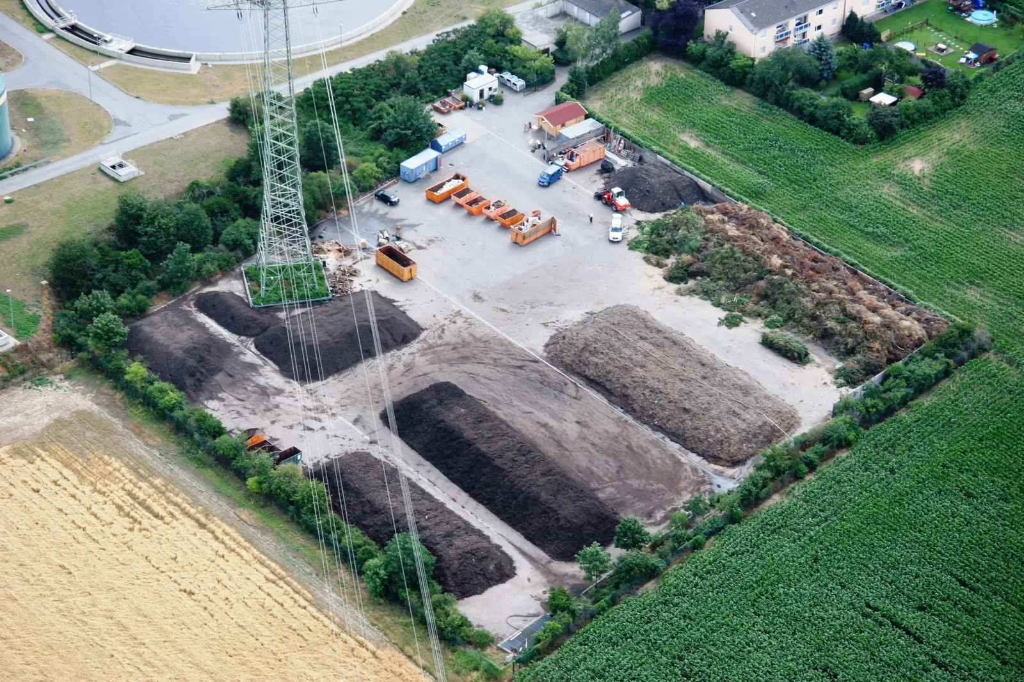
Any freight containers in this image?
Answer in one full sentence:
Yes, this view includes a freight container.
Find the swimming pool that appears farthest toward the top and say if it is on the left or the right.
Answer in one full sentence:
The swimming pool that appears farthest toward the top is on the right side of the image.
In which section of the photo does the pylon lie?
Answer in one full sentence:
The pylon sits in the top left section of the image.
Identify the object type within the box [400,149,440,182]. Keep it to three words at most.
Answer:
shipping container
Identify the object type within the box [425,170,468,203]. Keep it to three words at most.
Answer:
shipping container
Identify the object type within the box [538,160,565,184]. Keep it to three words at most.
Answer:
vehicle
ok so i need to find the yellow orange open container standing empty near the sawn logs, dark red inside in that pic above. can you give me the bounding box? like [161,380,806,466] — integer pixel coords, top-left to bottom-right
[375,243,416,278]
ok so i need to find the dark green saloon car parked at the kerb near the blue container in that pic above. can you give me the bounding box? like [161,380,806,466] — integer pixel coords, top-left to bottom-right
[373,188,402,204]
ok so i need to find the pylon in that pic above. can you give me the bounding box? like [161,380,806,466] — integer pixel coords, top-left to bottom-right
[198,0,341,299]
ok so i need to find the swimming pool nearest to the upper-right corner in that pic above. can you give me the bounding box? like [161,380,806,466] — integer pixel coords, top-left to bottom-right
[961,8,1005,29]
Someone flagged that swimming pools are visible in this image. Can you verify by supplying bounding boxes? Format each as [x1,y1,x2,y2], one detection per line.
[961,8,1005,29]
[893,40,916,54]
